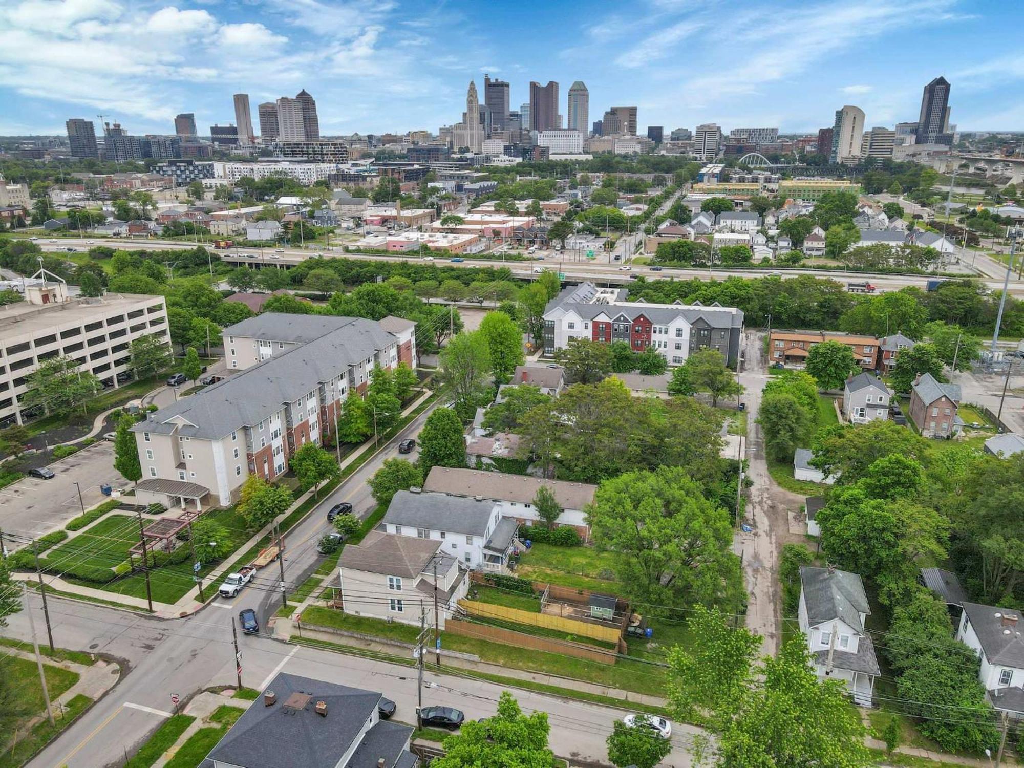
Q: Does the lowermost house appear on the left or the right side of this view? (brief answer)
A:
left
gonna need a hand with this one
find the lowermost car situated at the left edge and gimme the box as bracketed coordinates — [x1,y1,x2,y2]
[32,465,51,478]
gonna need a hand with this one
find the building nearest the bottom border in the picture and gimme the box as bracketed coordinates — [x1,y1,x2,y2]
[199,676,420,768]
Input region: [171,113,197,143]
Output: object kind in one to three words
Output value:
building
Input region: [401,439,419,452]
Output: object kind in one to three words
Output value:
vehicle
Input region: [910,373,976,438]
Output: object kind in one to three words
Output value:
house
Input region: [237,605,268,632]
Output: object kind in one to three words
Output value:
car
